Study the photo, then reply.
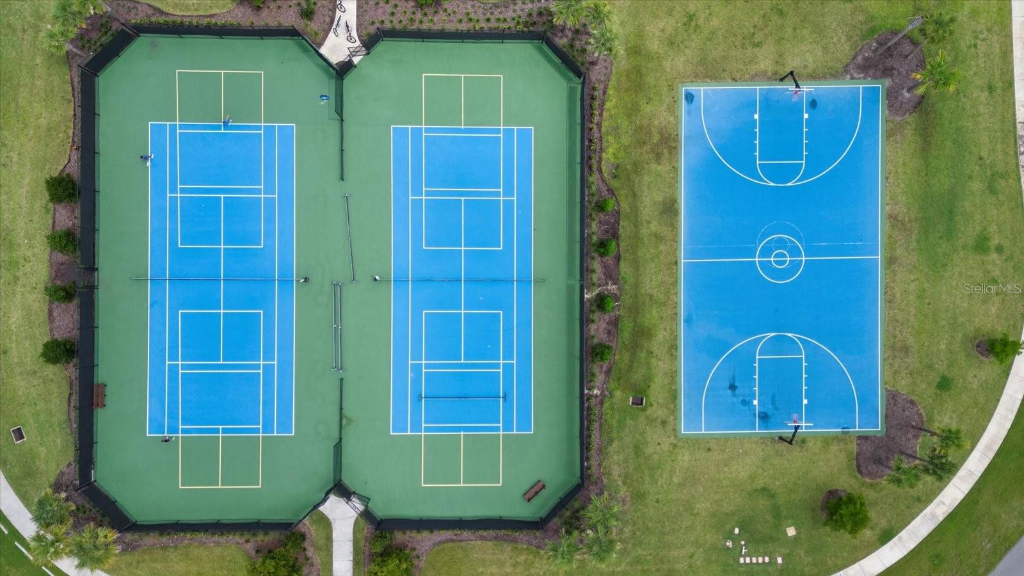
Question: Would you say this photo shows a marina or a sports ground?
sports ground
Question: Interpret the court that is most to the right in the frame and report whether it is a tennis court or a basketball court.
basketball court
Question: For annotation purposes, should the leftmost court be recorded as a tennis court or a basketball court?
tennis court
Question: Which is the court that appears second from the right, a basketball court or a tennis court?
tennis court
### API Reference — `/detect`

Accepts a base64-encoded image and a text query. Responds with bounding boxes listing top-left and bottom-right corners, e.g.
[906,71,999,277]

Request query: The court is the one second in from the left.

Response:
[339,37,586,521]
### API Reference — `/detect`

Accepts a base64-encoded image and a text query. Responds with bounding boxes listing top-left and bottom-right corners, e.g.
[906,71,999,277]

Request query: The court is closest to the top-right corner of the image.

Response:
[678,79,887,438]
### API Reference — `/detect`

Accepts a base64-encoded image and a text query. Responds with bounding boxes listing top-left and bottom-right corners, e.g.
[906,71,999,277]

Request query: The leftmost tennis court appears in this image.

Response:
[92,34,343,524]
